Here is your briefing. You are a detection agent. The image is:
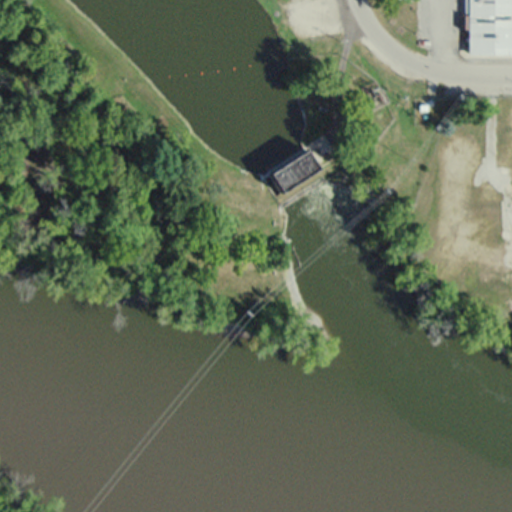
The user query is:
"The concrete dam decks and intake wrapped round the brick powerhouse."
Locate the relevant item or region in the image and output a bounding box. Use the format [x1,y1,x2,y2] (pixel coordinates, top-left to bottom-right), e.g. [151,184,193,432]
[259,136,336,208]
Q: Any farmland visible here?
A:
No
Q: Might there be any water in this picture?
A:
Yes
